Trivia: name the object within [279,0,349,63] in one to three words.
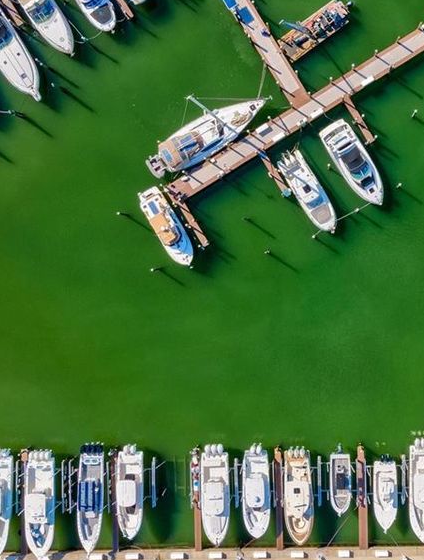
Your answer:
ship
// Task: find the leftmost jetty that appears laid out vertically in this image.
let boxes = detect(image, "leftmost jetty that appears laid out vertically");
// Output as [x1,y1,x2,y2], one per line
[14,449,34,552]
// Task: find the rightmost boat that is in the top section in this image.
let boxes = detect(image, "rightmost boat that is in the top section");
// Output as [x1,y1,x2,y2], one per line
[317,114,386,209]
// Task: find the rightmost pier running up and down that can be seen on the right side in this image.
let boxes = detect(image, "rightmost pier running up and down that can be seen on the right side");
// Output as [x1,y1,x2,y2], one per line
[354,445,370,546]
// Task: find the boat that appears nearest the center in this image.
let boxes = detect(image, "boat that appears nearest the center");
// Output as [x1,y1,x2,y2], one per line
[137,186,195,269]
